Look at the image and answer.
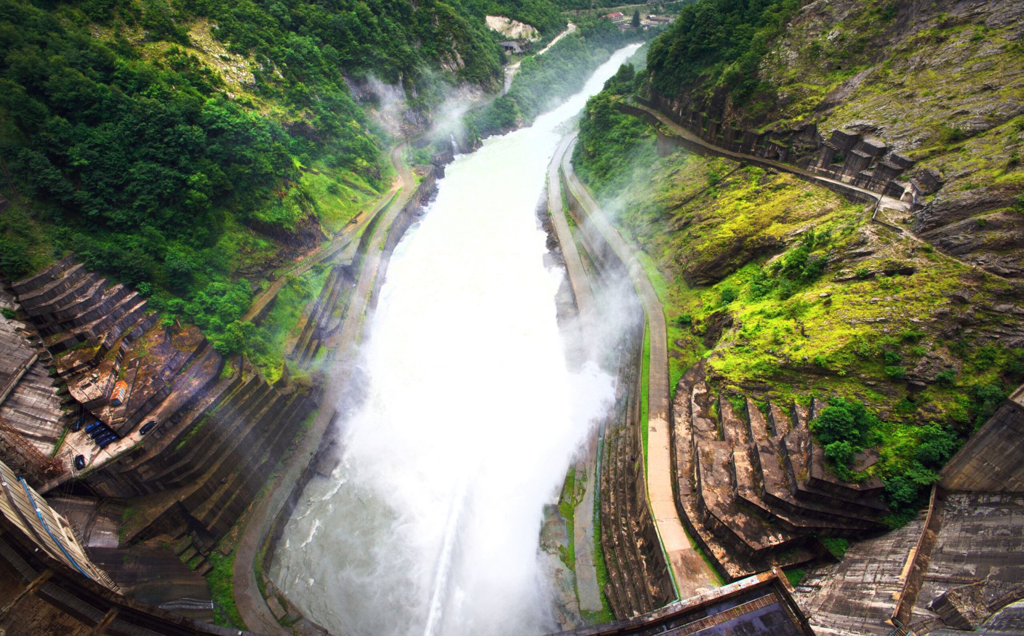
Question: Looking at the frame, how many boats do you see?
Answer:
0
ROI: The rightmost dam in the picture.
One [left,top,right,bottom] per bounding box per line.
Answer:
[788,486,1024,636]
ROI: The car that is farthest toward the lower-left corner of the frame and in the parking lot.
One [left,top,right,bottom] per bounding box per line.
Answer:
[72,452,86,469]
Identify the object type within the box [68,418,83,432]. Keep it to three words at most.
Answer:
car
